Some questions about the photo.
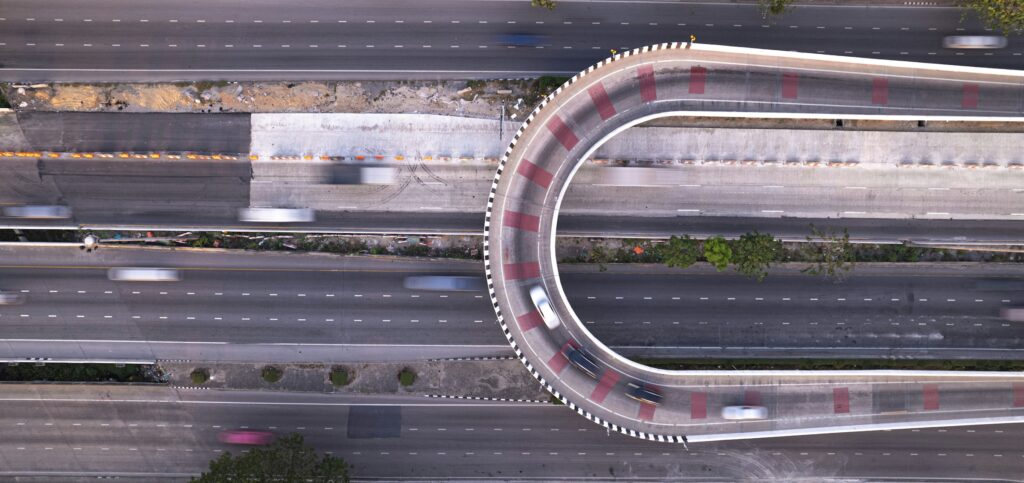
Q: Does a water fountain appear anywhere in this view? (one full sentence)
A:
No, no water fountain is visible in the view.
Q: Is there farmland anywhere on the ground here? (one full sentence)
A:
No, there is no farmland in the image.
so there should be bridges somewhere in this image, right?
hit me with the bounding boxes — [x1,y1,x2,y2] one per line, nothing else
[484,42,1024,442]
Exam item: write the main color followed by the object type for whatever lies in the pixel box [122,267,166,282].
white car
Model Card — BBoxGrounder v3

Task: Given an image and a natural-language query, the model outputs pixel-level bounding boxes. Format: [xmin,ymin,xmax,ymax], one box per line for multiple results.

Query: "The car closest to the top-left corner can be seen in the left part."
[12,205,59,219]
